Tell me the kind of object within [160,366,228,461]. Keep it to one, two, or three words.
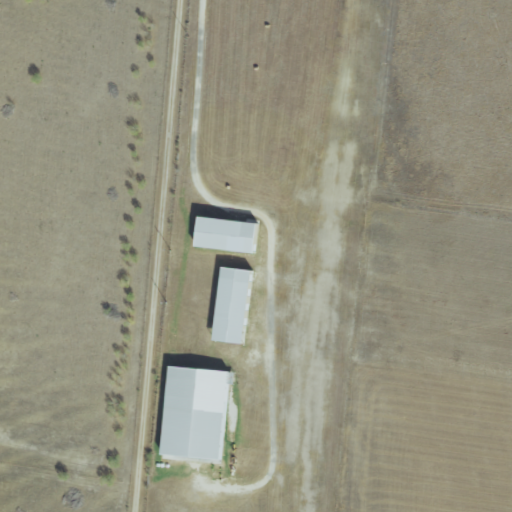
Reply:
hangar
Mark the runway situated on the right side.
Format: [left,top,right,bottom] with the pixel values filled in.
[280,0,367,512]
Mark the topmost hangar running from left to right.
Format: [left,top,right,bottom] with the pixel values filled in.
[194,216,258,252]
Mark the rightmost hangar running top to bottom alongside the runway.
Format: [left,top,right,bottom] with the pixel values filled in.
[212,267,252,347]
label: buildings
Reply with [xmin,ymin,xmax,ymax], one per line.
[160,366,228,461]
[212,267,252,347]
[194,216,258,252]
